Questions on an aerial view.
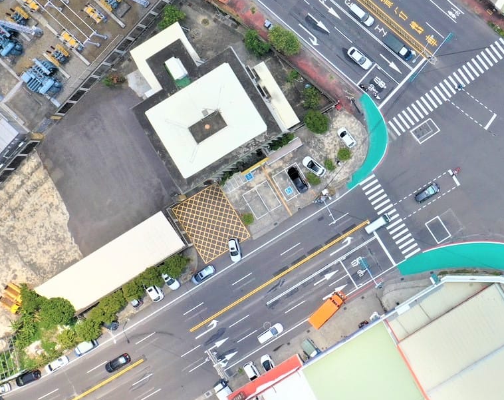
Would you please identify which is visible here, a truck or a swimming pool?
truck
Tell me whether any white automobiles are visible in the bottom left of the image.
Yes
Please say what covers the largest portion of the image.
paved ground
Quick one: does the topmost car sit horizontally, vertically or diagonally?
diagonally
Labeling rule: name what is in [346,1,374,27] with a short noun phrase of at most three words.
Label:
car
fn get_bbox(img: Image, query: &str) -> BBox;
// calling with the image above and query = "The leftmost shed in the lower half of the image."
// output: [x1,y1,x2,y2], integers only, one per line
[34,210,197,312]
